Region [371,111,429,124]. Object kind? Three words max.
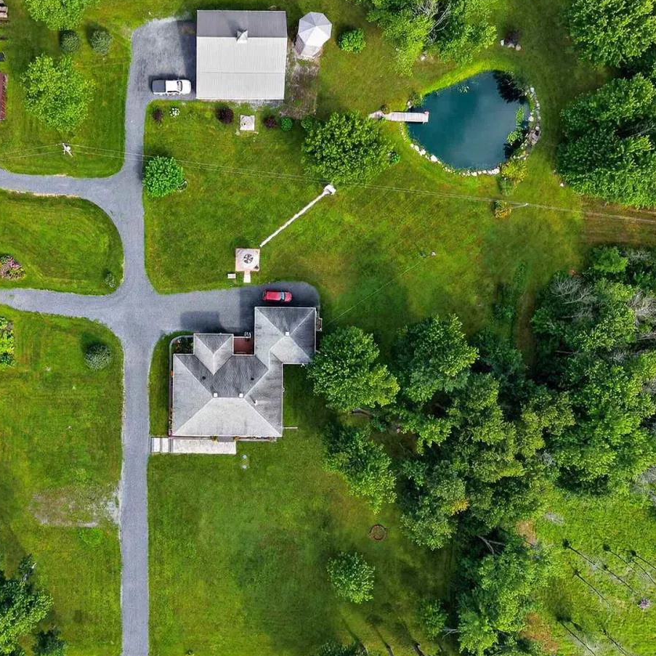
pier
